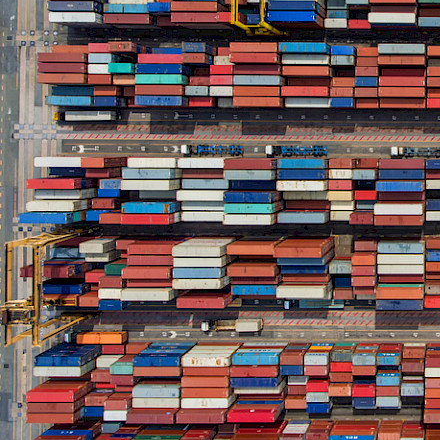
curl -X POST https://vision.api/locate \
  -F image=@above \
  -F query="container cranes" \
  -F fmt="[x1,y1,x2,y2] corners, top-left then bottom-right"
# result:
[0,224,98,341]
[232,0,290,38]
